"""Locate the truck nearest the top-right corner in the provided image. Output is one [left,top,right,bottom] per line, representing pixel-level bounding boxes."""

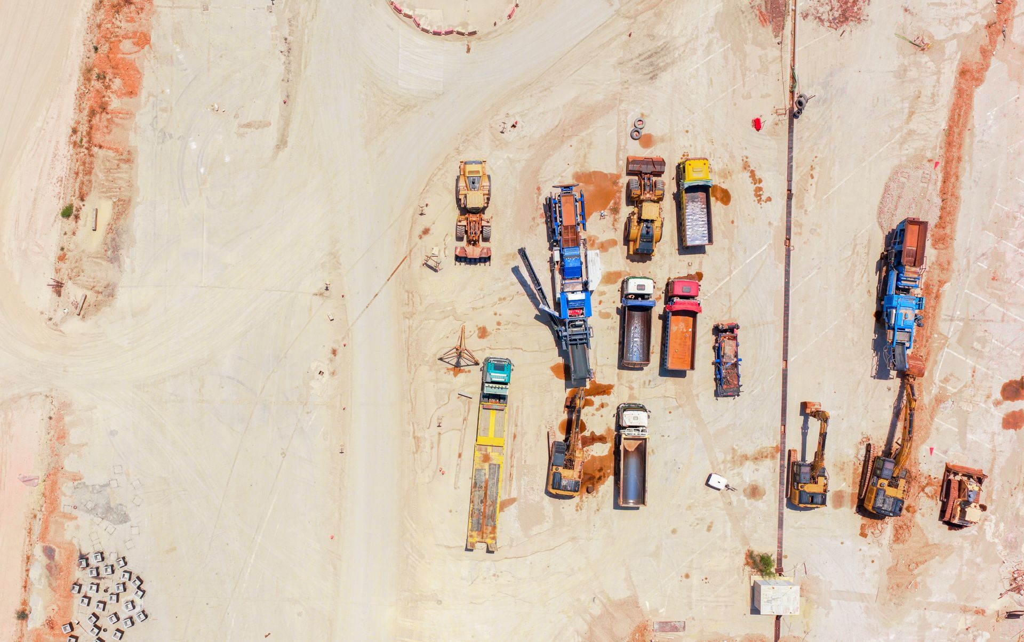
[679,156,714,245]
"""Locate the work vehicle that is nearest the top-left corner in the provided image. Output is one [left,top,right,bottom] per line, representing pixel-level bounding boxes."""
[455,157,491,264]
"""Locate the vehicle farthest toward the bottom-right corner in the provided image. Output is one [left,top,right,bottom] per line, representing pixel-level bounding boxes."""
[936,462,988,530]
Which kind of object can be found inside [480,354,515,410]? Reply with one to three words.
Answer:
truck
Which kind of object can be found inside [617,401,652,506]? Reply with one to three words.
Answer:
truck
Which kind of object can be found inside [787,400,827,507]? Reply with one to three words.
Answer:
work vehicle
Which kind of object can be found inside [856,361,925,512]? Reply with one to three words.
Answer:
work vehicle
